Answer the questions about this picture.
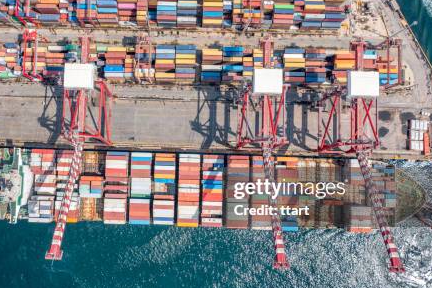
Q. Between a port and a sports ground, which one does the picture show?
port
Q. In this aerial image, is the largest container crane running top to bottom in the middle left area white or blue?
white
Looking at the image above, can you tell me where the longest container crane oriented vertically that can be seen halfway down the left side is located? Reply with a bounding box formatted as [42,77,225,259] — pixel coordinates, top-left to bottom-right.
[45,34,117,261]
